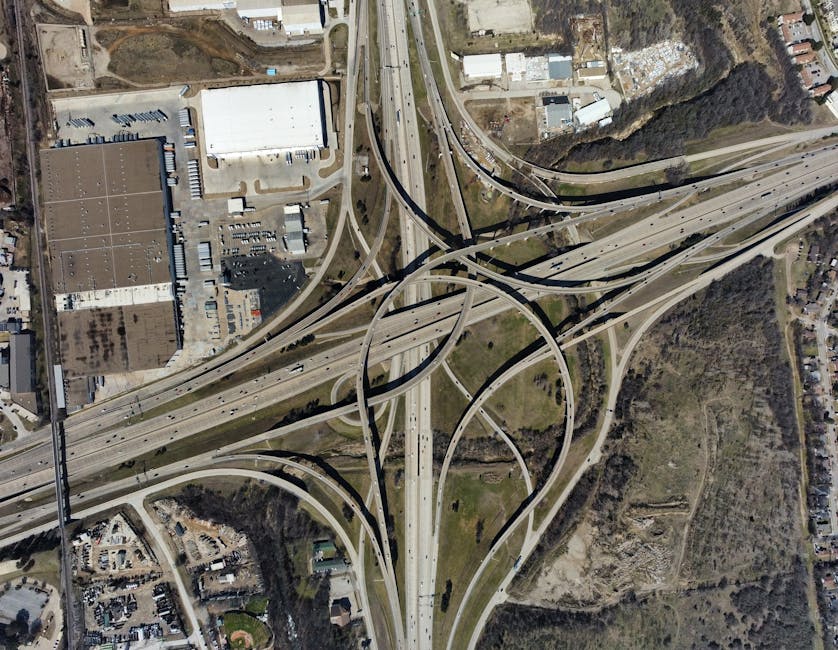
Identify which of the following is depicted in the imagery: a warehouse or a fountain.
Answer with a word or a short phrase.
warehouse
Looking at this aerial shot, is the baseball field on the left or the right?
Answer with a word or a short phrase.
left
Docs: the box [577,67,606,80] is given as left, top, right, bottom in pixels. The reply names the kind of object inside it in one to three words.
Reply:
shed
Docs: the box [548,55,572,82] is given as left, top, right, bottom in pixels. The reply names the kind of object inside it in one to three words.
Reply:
building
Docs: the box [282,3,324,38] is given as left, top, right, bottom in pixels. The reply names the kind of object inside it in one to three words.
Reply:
building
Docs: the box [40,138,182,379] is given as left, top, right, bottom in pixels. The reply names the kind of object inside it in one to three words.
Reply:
warehouse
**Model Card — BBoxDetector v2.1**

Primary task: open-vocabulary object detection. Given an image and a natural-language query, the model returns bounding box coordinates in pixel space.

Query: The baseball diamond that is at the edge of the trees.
[221,612,273,650]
